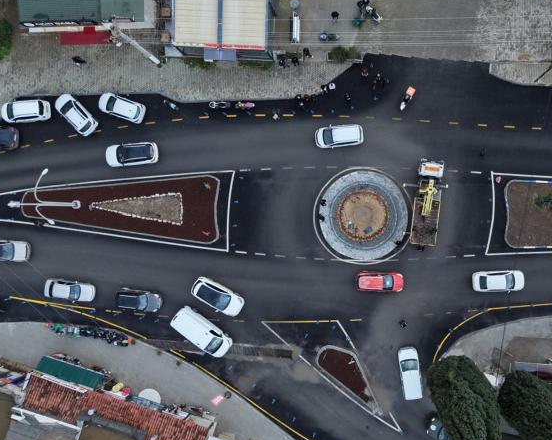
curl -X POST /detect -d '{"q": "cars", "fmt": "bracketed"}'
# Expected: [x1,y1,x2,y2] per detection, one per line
[44,277,99,303]
[0,126,23,148]
[191,276,246,315]
[56,91,101,140]
[114,288,166,315]
[470,269,526,294]
[314,125,365,149]
[97,92,150,124]
[355,269,407,294]
[0,238,35,262]
[105,142,161,167]
[1,98,55,123]
[397,344,423,401]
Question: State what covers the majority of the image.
paved ground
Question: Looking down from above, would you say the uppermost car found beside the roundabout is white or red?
white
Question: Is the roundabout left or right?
right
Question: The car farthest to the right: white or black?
white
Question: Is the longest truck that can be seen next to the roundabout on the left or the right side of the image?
right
